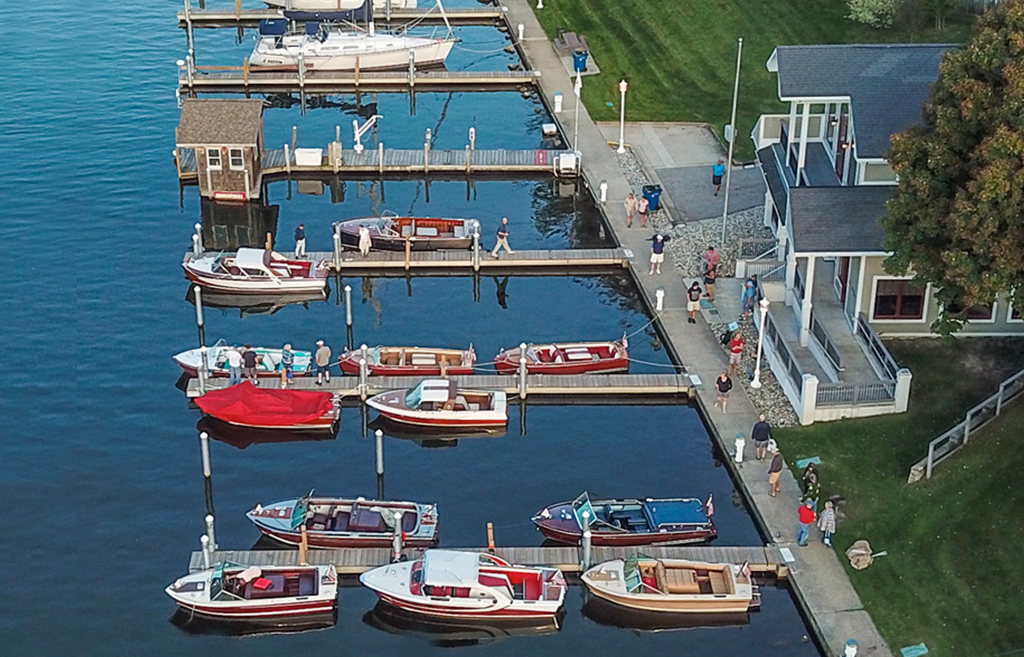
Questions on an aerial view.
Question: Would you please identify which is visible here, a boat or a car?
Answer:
boat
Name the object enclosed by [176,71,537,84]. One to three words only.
pier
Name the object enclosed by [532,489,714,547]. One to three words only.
boat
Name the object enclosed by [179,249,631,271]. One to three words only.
pier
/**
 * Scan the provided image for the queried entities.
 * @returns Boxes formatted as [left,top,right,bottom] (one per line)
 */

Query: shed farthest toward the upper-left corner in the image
[173,99,269,198]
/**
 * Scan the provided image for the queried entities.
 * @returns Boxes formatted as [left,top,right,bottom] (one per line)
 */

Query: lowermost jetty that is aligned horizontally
[186,546,779,579]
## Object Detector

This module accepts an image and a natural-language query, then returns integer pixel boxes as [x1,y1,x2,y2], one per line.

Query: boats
[252,0,460,72]
[332,212,473,250]
[532,489,714,547]
[193,384,344,431]
[338,333,474,384]
[581,551,764,614]
[494,326,628,379]
[365,376,506,428]
[165,559,336,621]
[245,491,436,549]
[359,546,566,618]
[182,248,339,293]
